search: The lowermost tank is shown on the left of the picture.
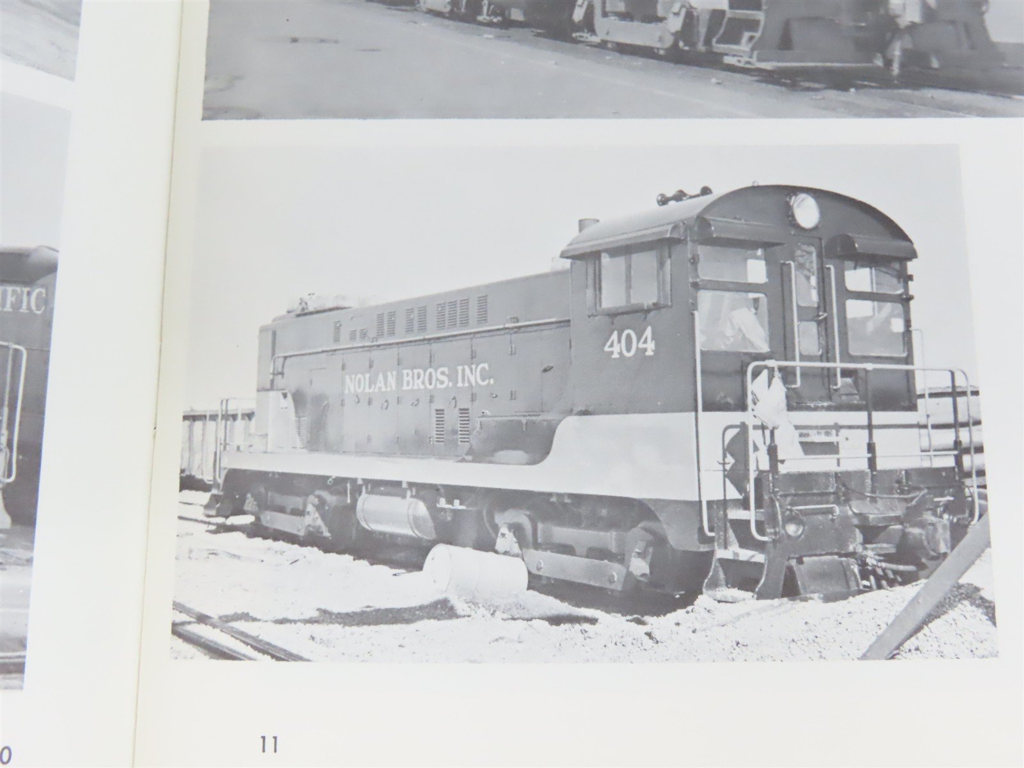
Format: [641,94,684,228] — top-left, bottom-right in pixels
[356,495,436,540]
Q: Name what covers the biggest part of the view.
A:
buildings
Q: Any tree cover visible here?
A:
No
